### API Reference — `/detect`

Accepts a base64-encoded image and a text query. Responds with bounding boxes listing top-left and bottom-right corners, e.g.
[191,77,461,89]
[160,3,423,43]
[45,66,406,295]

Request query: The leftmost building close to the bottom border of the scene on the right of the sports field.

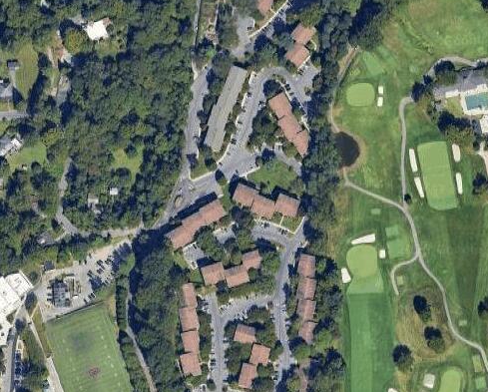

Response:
[178,283,202,375]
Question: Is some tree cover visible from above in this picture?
Yes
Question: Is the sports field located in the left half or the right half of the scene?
left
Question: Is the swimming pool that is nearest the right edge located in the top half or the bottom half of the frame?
top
